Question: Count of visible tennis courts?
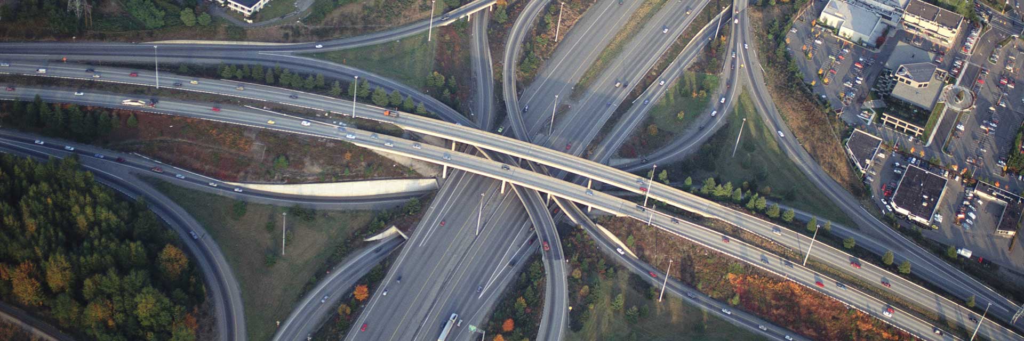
none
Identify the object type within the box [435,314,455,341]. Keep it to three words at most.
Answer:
vehicle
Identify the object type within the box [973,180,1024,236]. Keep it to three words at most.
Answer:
building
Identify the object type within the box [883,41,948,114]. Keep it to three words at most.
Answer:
building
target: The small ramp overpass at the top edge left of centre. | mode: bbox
[432,0,500,26]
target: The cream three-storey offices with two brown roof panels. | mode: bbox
[897,0,963,50]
